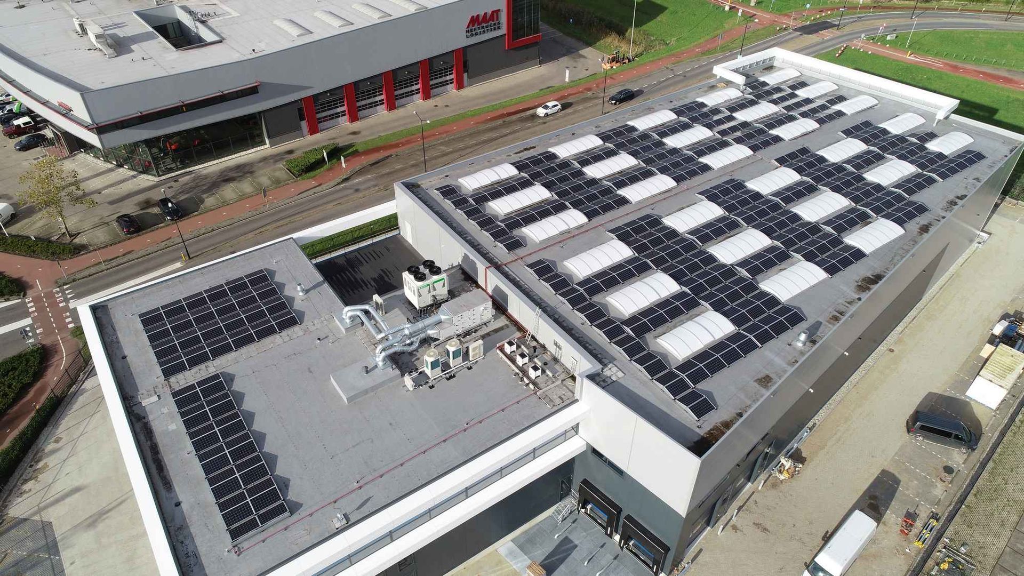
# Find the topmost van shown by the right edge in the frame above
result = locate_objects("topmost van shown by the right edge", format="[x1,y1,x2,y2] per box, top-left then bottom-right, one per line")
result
[908,404,980,451]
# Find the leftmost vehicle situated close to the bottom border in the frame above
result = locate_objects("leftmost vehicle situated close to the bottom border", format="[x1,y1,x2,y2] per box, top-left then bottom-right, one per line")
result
[803,509,878,576]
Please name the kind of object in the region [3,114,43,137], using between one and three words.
vehicle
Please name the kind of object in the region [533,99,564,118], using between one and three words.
car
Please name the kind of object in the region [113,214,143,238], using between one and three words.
car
